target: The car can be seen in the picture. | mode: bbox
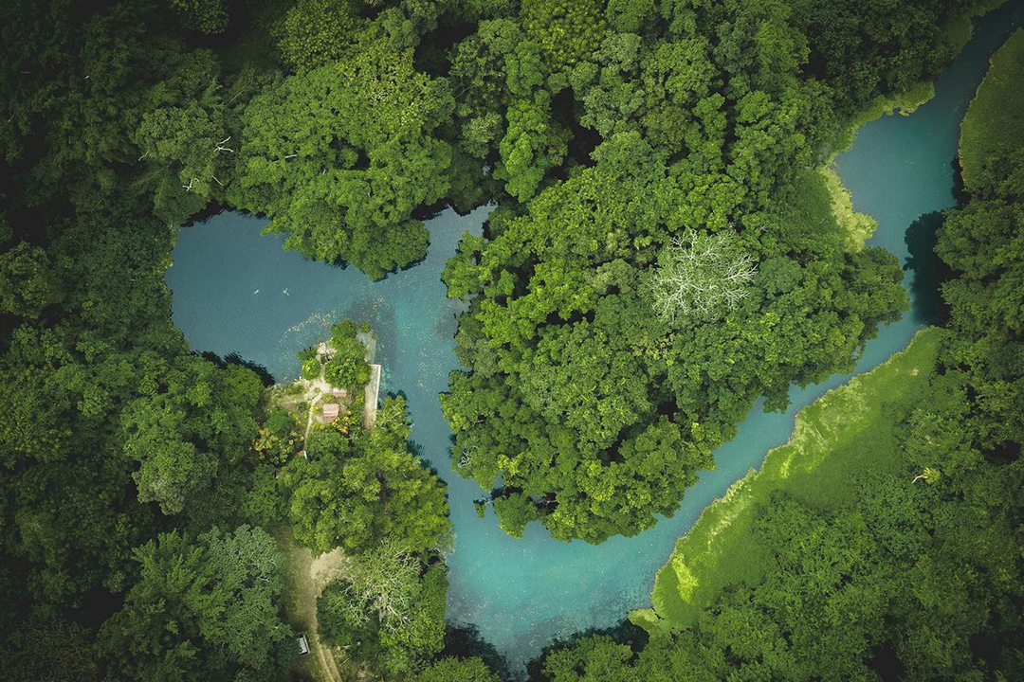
[296,636,310,657]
